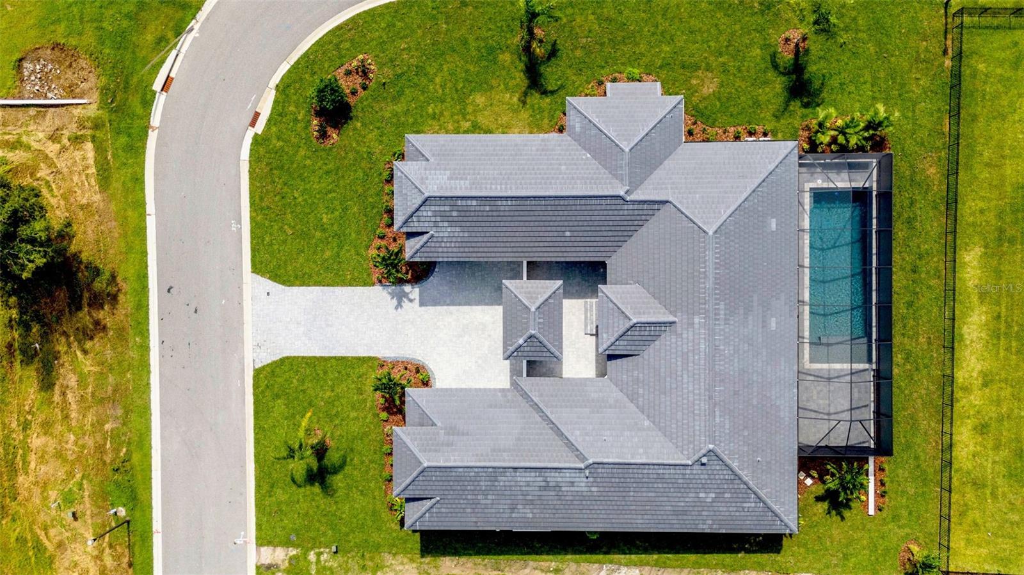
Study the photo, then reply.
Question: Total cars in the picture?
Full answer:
Not a single car can be seen.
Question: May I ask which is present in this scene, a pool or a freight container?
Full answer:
The image shows a pool.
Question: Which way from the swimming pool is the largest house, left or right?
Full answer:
Looking at the picture, you'll find the largest house to the left of the swimming pool.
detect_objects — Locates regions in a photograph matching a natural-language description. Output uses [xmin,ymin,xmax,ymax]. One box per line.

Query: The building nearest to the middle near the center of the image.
[500,278,564,362]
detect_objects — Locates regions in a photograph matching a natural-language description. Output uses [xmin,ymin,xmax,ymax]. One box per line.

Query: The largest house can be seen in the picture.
[391,81,800,535]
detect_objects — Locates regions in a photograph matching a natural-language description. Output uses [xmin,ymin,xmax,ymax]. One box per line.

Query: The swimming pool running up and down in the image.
[804,160,876,370]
